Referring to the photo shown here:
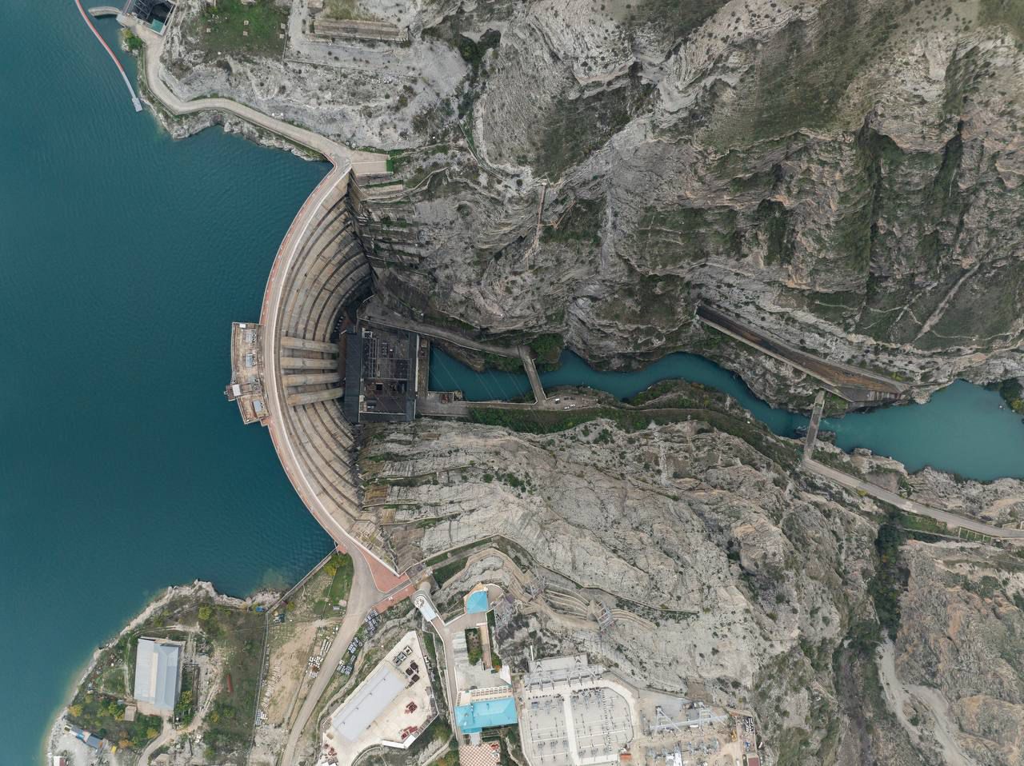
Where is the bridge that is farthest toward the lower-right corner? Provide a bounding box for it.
[798,394,824,462]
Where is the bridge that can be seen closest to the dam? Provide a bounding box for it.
[518,346,547,407]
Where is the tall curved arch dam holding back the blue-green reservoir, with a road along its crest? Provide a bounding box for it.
[231,159,397,573]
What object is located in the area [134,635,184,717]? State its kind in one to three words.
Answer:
building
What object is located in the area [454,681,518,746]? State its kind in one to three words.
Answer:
building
